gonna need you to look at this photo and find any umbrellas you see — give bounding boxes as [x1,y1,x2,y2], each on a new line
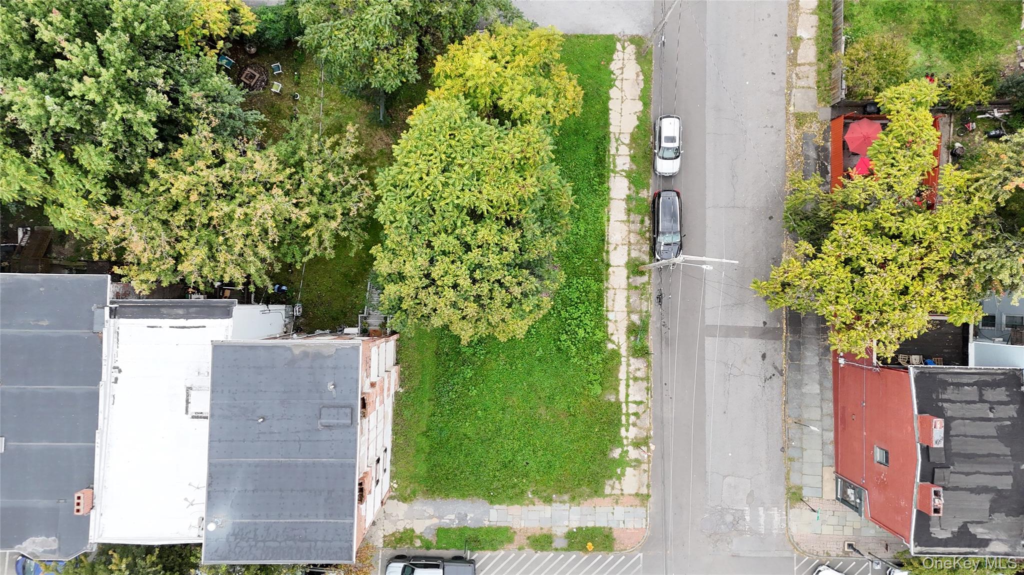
[845,155,874,181]
[842,119,879,156]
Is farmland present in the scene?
No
